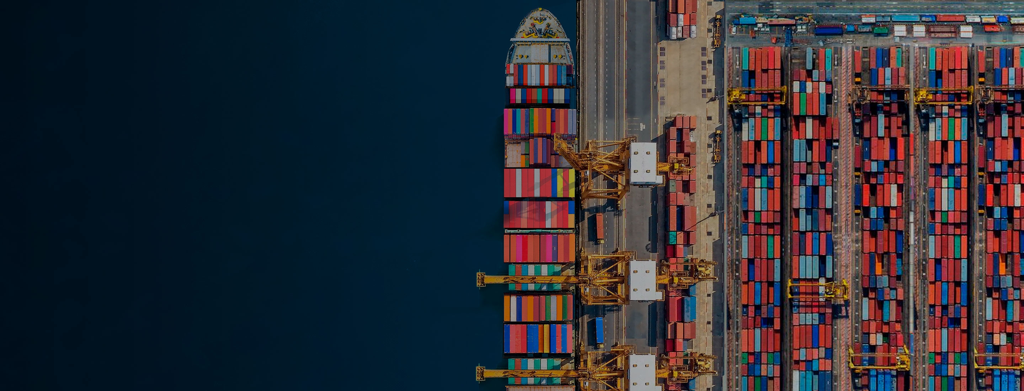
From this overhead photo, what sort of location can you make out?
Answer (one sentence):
The picture captures a port.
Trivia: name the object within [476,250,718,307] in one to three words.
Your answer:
container crane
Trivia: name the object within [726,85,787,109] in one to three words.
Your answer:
container crane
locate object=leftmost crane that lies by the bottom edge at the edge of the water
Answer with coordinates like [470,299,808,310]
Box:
[476,337,718,391]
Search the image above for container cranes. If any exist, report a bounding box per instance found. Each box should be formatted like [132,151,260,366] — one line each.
[786,279,848,300]
[846,349,913,369]
[967,349,1024,369]
[476,250,718,307]
[476,337,718,391]
[726,85,787,109]
[969,85,1024,107]
[847,85,912,107]
[910,85,974,109]
[550,130,694,190]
